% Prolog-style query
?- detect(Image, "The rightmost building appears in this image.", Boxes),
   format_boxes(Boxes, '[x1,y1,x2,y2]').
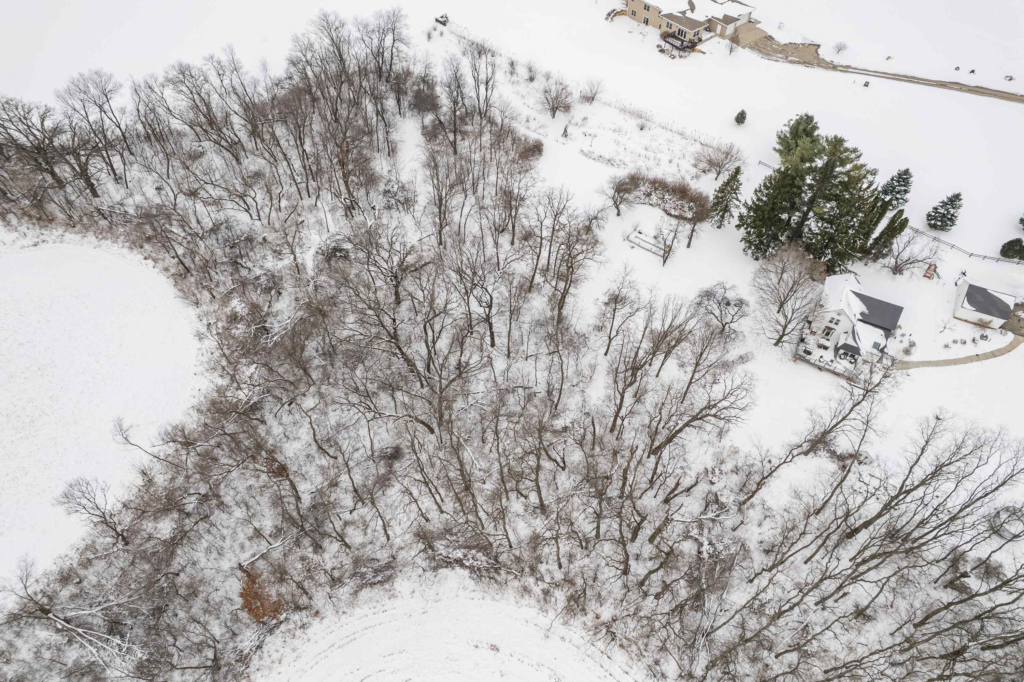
[954,274,1018,330]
